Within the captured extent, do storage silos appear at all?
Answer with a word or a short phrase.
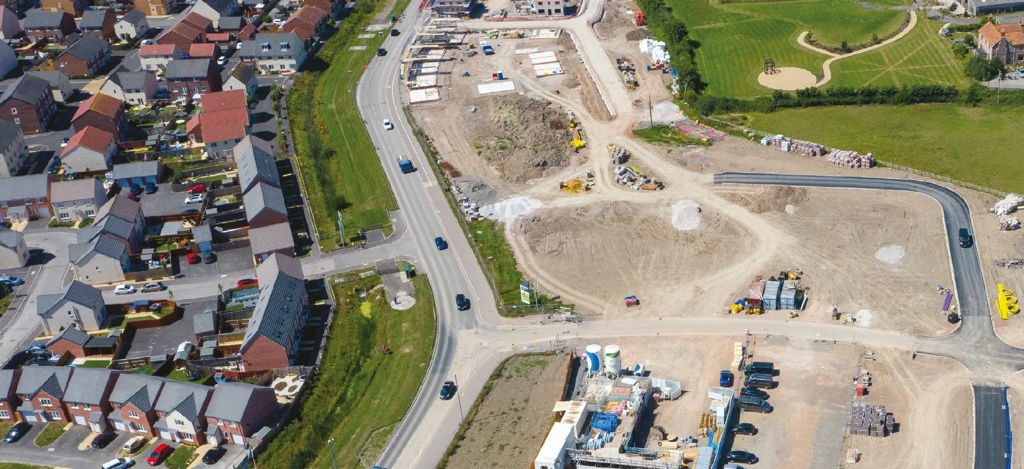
Yes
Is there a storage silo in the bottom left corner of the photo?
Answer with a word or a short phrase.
No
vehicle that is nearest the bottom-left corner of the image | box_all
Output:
[3,418,33,440]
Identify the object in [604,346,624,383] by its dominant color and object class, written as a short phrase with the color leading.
white silo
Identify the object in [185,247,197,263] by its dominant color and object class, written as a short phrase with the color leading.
red vehicle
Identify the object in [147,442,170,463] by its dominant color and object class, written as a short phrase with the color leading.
red car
